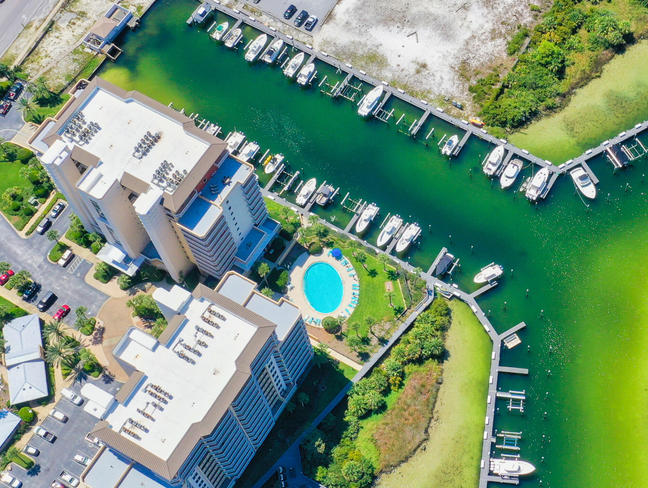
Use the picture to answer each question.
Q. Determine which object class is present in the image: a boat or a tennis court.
boat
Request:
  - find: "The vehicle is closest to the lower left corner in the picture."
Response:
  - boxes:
[1,472,22,488]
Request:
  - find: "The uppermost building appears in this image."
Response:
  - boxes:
[83,4,133,55]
